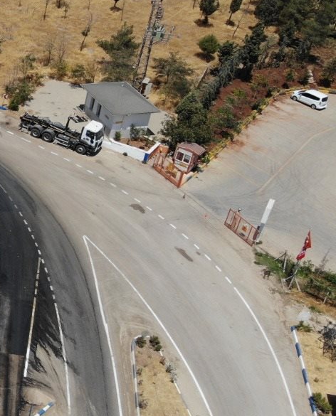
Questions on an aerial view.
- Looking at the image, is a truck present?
Yes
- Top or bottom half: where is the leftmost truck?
top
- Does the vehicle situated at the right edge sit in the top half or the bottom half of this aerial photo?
top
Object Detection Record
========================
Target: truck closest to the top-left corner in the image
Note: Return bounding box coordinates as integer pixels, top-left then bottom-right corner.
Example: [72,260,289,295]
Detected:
[24,115,108,156]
